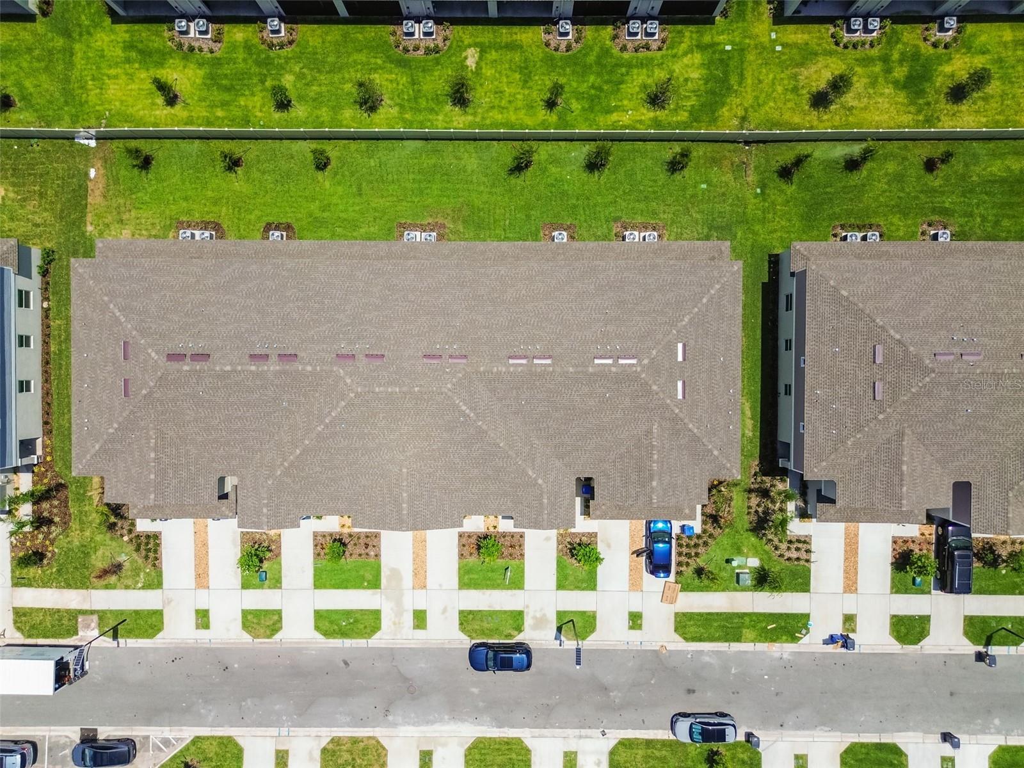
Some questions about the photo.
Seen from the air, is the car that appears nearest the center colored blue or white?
blue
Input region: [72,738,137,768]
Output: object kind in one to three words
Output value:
car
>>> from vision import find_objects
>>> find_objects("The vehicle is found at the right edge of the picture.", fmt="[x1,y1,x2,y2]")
[935,517,974,592]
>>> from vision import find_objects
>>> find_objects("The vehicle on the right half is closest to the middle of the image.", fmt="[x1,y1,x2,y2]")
[634,517,676,577]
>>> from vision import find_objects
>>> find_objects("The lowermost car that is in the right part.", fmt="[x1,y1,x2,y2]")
[672,711,739,746]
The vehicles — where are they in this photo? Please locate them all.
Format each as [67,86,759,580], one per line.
[634,517,676,577]
[672,711,739,746]
[935,517,974,592]
[470,643,532,676]
[72,738,137,768]
[0,644,86,696]
[0,742,36,768]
